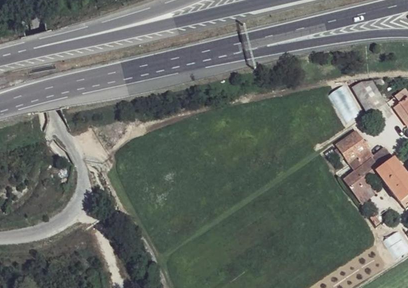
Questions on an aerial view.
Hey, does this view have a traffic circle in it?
No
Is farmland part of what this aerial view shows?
Yes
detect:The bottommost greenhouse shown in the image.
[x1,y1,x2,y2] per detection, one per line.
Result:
[383,232,408,259]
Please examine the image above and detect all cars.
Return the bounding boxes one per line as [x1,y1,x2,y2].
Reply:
[353,15,365,21]
[394,126,402,136]
[372,144,383,154]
